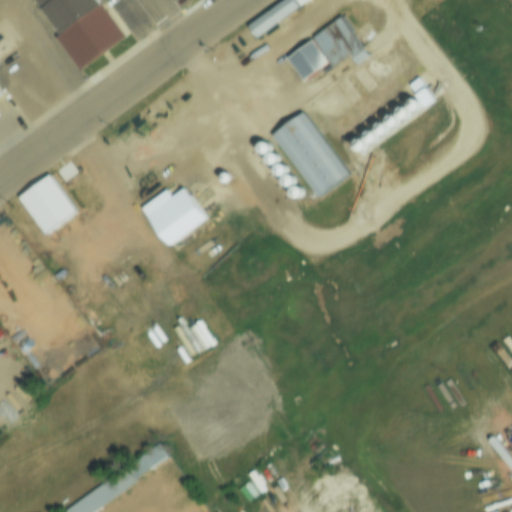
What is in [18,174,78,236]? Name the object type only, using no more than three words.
building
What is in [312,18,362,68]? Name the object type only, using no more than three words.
barn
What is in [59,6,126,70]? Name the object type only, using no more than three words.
building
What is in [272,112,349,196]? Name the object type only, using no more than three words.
shed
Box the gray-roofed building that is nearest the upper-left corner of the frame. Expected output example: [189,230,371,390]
[36,0,103,36]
